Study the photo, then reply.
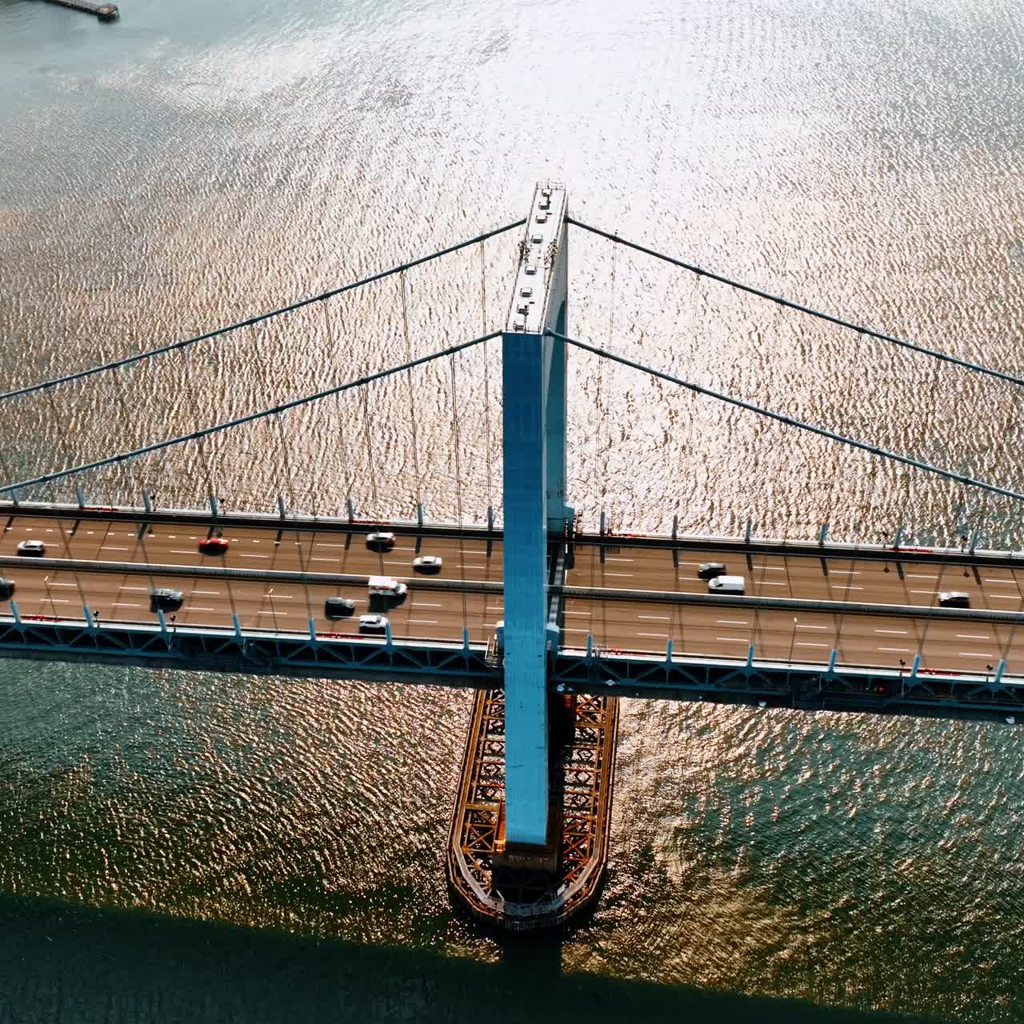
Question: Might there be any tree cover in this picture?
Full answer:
No, no tree cover is visible.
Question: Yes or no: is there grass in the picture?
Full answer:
No, there's no grass in this view.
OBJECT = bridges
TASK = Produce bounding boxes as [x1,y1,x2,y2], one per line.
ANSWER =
[0,176,1024,876]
